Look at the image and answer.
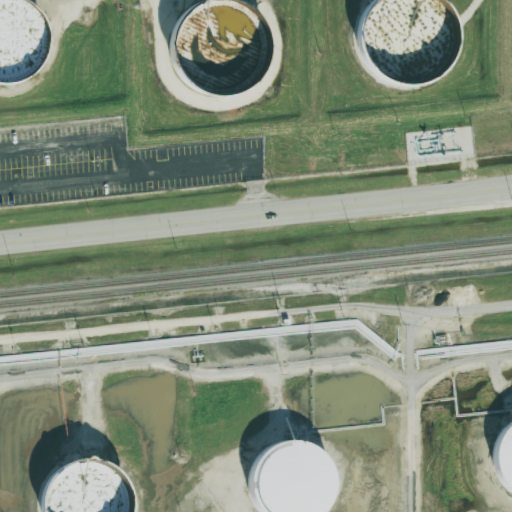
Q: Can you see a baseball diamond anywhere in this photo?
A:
No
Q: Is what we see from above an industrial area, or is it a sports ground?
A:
industrial area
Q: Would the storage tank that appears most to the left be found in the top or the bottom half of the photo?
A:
top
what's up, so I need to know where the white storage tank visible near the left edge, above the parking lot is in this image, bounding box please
[0,0,52,86]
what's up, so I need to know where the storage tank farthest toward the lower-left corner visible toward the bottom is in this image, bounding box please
[38,456,138,512]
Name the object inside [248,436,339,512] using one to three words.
storage tank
